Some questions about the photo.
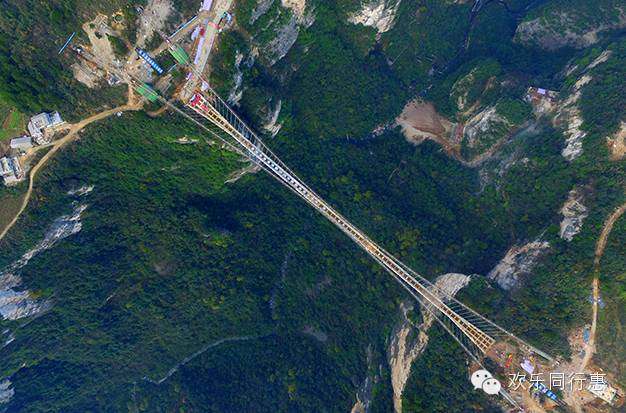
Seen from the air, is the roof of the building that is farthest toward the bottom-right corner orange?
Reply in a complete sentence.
No, the roof of the building that is farthest toward the bottom-right corner is white.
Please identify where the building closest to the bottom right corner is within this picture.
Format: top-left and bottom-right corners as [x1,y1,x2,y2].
[581,368,616,400]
